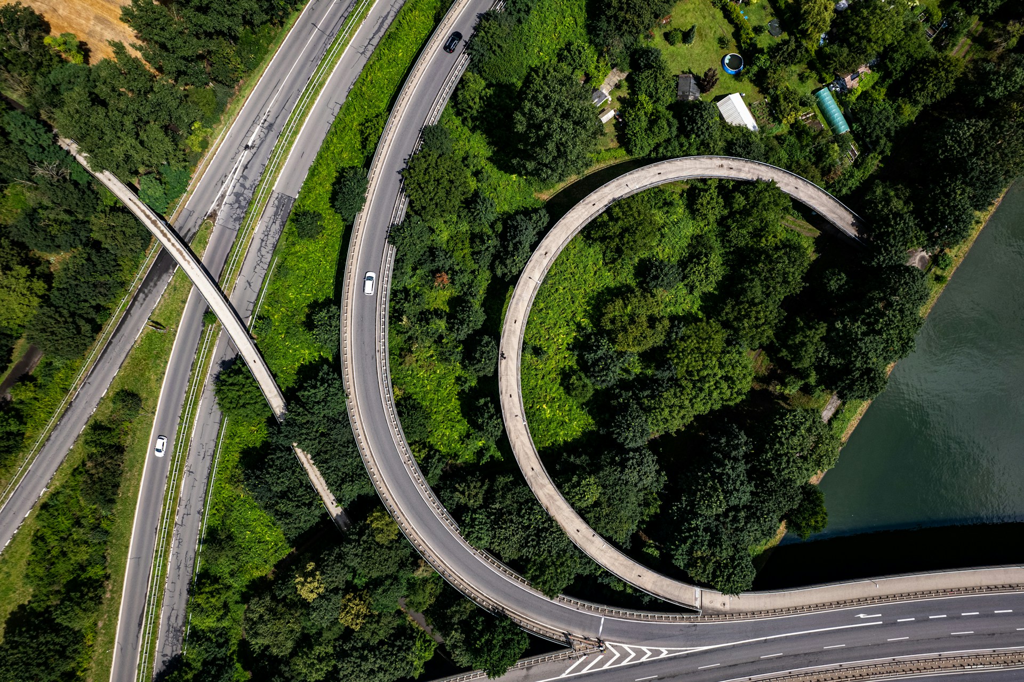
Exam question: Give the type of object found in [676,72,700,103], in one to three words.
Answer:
shed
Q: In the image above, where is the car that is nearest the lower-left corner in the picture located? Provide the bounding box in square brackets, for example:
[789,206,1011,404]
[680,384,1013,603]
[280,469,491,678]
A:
[153,435,168,458]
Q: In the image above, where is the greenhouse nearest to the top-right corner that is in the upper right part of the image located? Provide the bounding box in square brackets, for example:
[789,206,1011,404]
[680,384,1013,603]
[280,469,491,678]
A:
[815,86,850,133]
